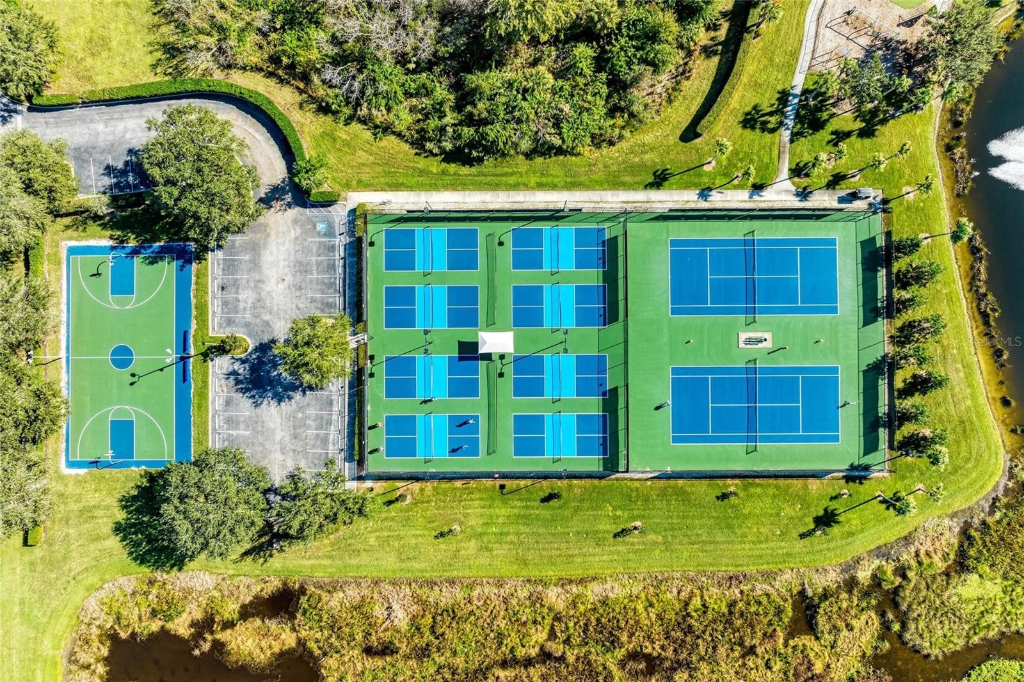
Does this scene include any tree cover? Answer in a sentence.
Yes, tree cover can be seen from above here.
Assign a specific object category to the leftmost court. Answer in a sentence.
The leftmost court in the image is a basketball court.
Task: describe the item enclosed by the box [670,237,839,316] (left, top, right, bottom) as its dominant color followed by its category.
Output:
blue tennis court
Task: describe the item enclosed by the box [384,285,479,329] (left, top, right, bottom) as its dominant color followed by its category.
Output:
blue sports court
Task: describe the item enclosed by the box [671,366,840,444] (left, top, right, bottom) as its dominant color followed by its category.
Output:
blue tennis court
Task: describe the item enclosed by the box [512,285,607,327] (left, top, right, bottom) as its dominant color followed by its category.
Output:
blue sports court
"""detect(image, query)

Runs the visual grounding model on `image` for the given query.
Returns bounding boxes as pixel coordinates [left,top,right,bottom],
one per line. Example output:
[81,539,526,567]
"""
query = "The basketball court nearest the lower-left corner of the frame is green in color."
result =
[60,241,195,474]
